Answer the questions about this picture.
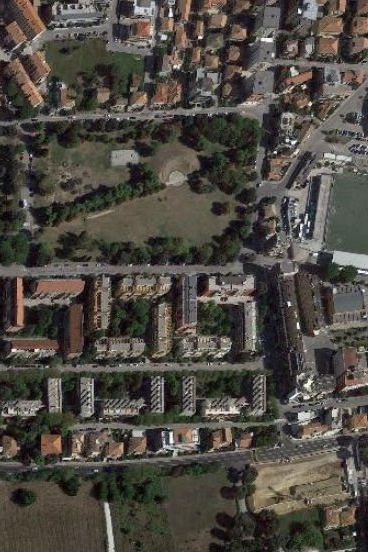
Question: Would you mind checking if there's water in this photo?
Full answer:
No, the scene doesn't show any water.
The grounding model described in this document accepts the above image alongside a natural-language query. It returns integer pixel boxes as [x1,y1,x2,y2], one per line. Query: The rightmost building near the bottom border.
[340,504,355,529]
